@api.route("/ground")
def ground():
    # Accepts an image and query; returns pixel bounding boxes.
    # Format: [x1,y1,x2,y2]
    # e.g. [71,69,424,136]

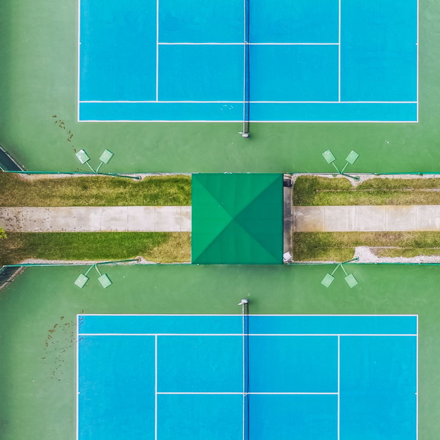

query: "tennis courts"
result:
[0,0,440,173]
[0,265,440,440]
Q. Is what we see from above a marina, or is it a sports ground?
sports ground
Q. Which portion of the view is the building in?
center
